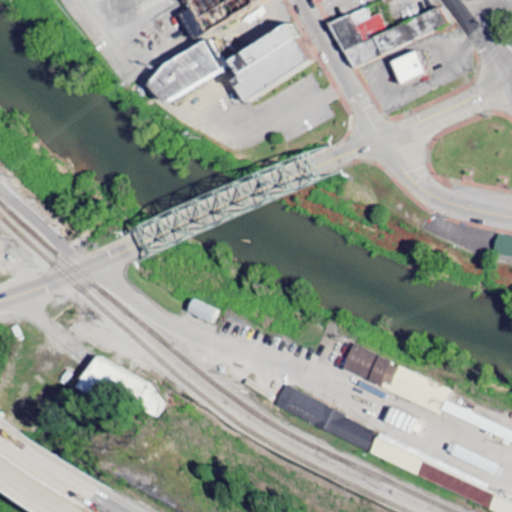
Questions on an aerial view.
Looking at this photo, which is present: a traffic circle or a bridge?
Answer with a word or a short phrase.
bridge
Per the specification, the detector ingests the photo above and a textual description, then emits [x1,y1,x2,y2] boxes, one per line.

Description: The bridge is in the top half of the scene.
[128,144,338,260]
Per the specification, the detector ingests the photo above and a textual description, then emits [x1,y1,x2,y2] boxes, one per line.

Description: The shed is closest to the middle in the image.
[188,299,220,322]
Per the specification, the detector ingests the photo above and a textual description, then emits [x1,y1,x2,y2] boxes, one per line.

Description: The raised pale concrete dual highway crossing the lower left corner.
[0,418,149,512]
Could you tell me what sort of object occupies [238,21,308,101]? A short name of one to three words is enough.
building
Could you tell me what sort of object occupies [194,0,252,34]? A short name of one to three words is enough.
building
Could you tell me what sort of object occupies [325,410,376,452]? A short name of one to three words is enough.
shed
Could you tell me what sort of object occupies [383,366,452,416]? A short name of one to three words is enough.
shed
